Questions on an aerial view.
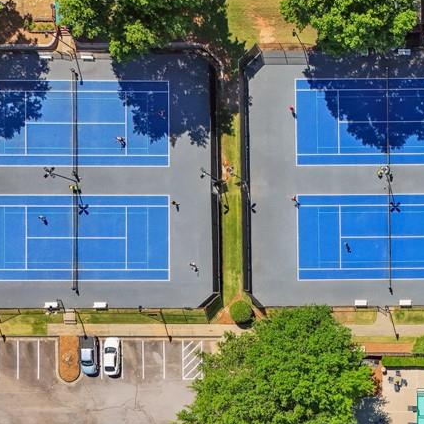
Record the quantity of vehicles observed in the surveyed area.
two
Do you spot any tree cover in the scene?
Yes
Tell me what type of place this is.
sports ground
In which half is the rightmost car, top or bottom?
bottom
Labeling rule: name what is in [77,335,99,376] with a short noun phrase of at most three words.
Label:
truck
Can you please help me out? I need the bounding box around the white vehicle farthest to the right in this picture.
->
[102,337,122,376]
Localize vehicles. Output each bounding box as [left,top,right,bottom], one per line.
[77,335,99,376]
[102,337,122,376]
